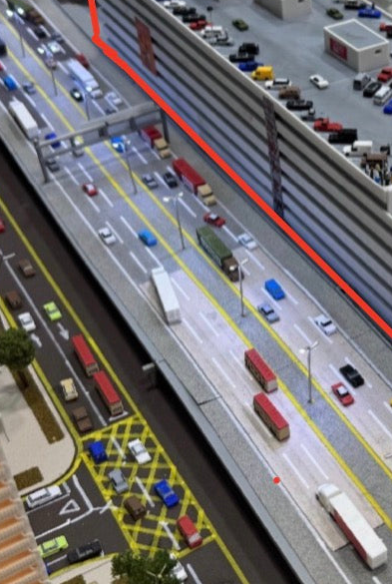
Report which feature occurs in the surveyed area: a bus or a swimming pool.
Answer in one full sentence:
This aerial view contains a bus.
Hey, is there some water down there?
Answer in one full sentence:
No, water can't be seen anywhere here.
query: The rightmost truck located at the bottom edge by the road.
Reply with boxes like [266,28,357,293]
[315,484,392,577]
